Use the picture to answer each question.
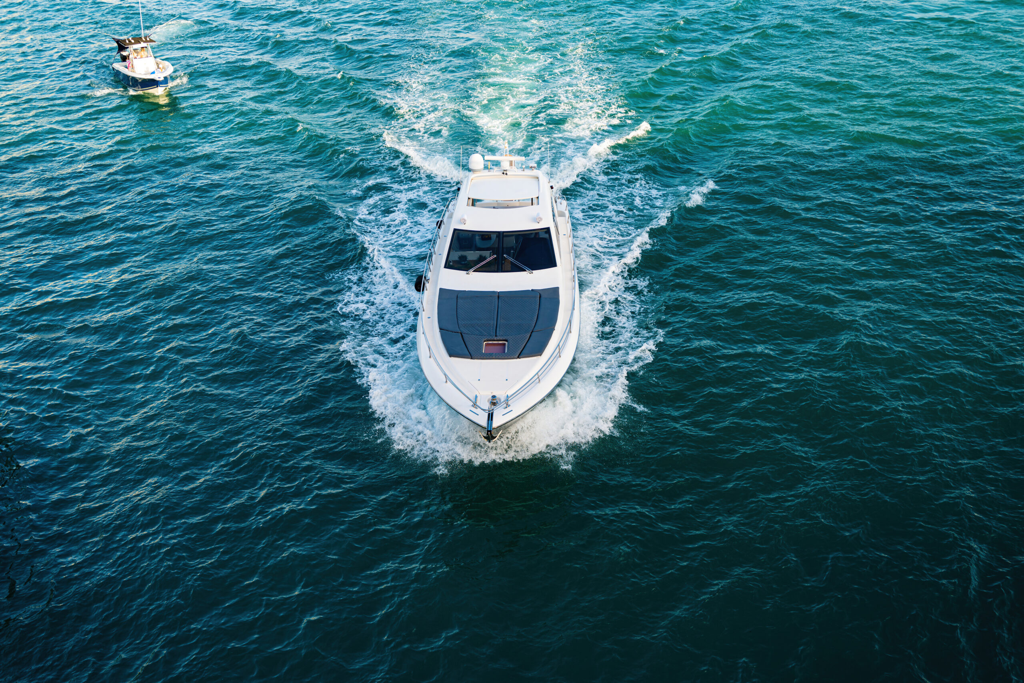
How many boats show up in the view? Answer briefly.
2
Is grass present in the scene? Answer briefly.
No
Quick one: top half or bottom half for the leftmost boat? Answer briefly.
top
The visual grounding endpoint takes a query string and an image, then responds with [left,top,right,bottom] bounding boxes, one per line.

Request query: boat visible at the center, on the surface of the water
[417,135,581,452]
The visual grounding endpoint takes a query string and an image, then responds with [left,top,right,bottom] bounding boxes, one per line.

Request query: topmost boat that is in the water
[56,2,174,95]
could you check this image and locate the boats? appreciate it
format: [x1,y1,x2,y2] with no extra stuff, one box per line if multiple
[417,135,581,452]
[56,2,174,95]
